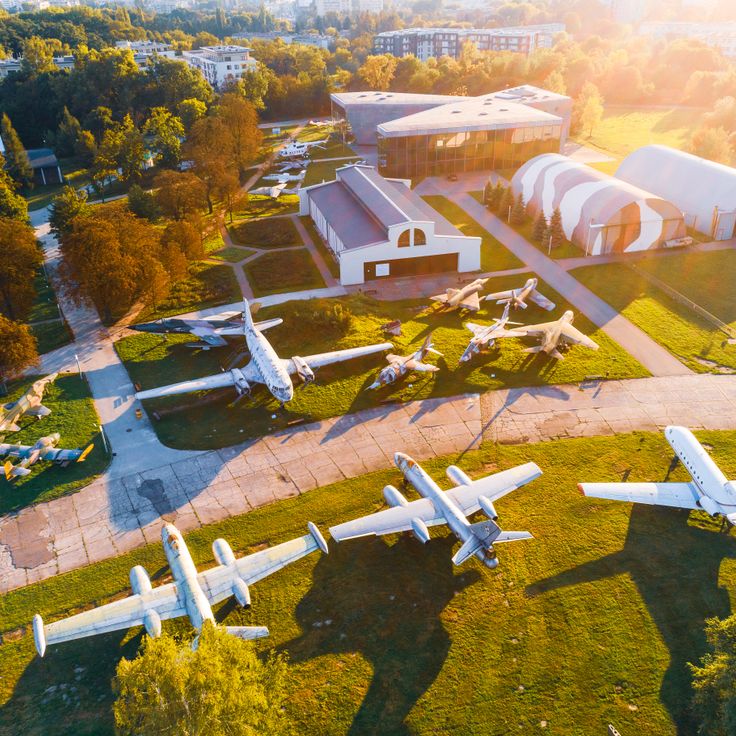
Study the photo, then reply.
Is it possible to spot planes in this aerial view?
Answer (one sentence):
Yes, looking at the shot, I can spot a plane.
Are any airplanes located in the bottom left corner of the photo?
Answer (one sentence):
Yes, there is an airplane in the bottom left corner of the photo.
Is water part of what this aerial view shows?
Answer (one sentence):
No, there is no water in the image.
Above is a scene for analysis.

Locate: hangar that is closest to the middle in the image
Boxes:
[300,160,484,285]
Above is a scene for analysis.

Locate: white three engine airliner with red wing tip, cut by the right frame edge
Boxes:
[579,430,736,533]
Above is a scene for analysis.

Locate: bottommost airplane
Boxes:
[36,522,326,667]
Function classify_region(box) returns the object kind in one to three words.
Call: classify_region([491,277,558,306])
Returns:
airplane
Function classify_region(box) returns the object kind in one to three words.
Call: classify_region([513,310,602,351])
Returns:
airplane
